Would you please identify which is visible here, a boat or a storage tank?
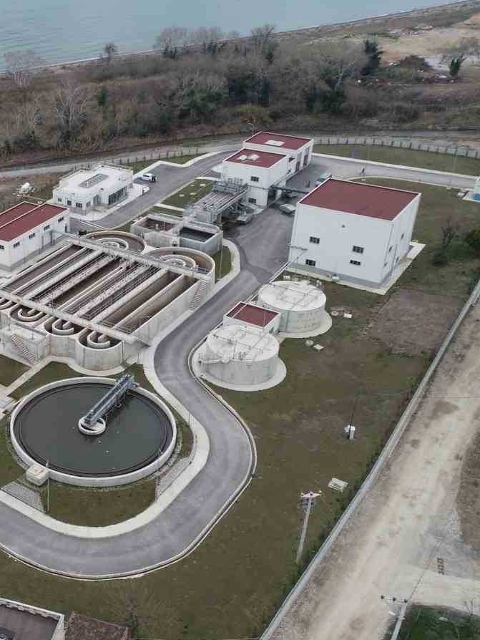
storage tank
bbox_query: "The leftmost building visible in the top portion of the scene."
[0,203,68,265]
